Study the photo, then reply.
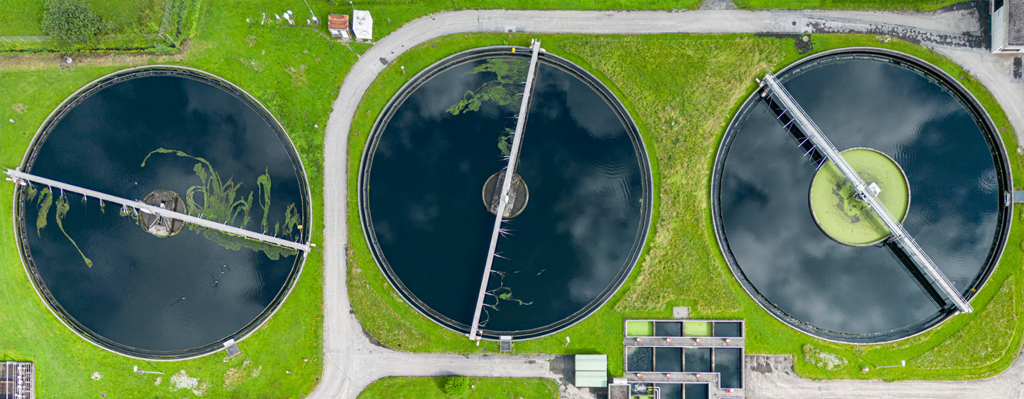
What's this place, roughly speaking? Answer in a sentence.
This looks like an industrial area.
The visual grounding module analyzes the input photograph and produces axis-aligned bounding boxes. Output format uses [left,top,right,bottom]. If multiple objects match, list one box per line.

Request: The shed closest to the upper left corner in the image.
[328,14,352,42]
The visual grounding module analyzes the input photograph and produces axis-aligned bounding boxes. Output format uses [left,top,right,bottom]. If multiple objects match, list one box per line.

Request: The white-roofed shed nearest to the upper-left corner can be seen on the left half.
[353,10,375,45]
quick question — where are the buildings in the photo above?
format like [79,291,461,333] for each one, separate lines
[988,0,1024,52]
[575,356,607,388]
[608,385,630,399]
[328,14,352,42]
[353,10,375,45]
